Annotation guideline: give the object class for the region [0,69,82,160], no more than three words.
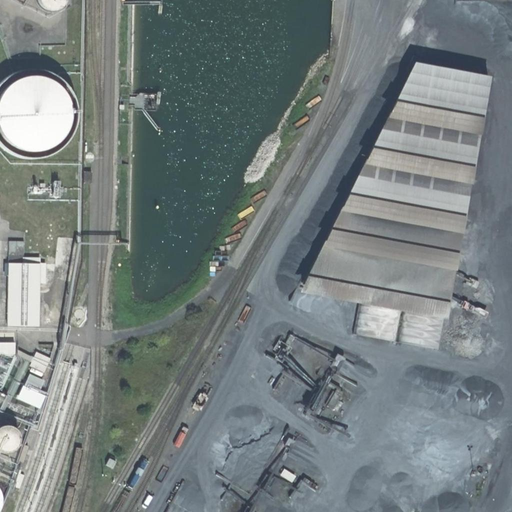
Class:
storage tank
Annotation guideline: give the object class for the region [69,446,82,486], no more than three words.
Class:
rail car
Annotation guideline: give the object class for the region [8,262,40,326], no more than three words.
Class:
building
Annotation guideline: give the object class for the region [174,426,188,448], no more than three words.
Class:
vehicle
